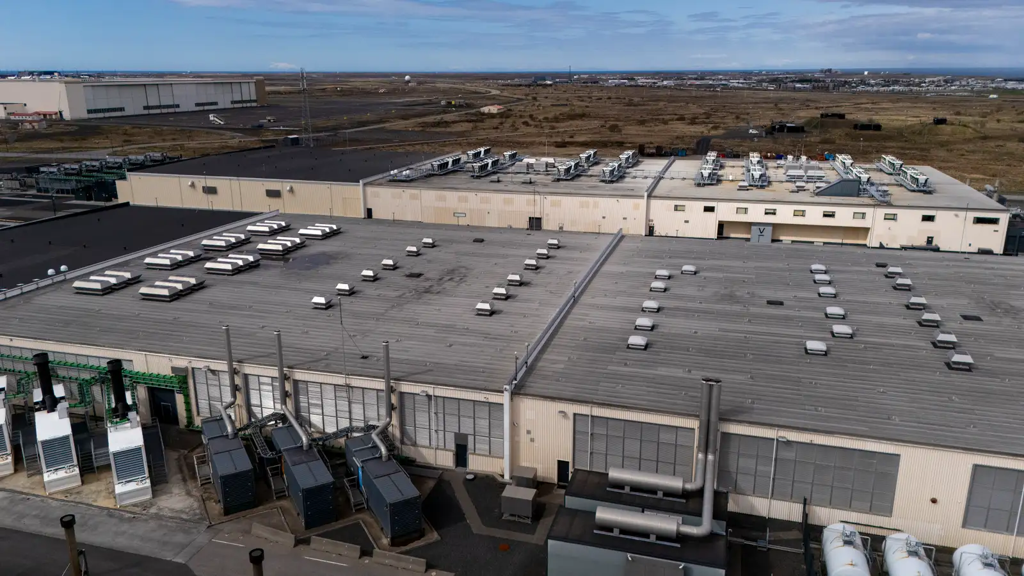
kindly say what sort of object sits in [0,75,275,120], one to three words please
hangar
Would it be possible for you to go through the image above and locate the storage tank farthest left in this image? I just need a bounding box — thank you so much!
[814,529,875,576]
